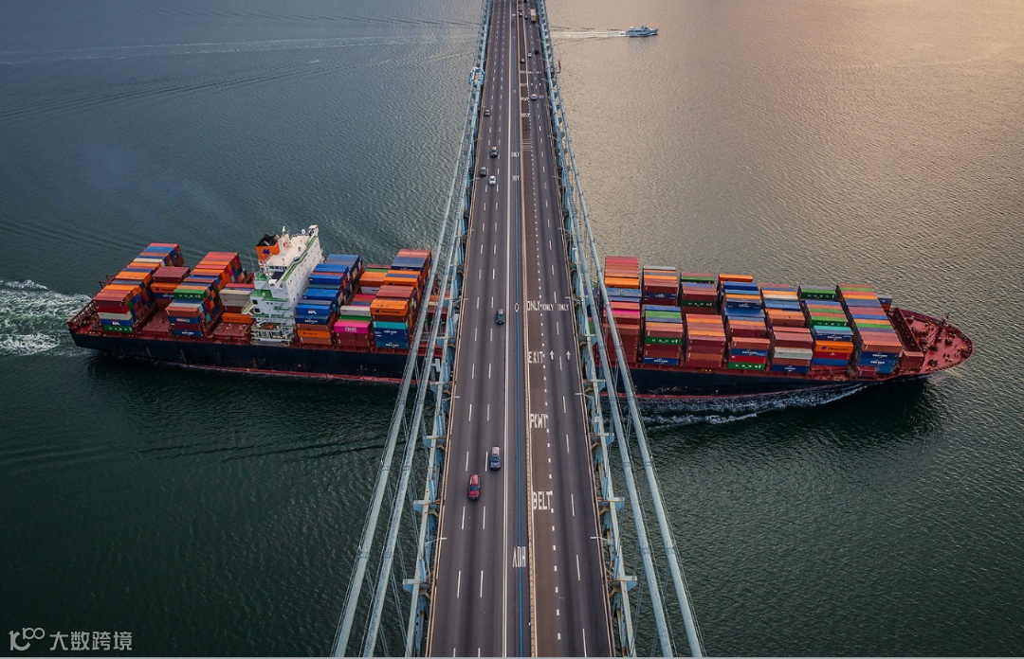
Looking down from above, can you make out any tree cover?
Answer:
No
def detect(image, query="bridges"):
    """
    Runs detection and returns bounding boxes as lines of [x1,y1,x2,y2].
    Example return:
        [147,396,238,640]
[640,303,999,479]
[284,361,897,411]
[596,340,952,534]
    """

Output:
[323,0,714,659]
